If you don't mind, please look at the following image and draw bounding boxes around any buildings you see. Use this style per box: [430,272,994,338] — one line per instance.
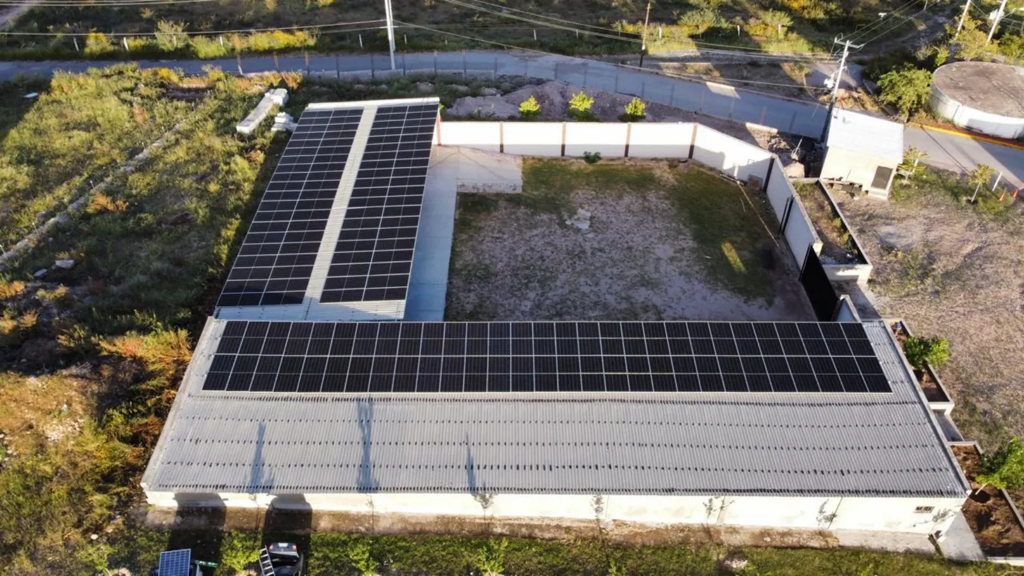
[823,108,909,200]
[140,318,970,536]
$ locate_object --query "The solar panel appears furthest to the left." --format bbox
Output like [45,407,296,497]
[148,549,186,576]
